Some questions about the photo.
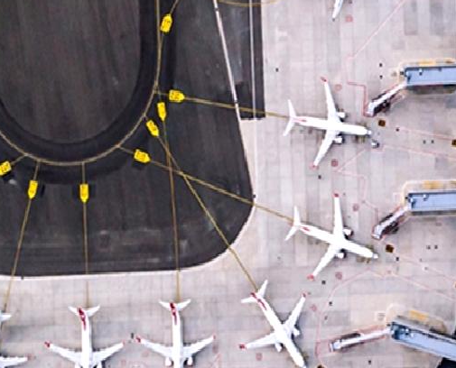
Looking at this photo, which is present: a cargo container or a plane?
plane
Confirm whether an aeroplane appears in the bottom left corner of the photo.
Yes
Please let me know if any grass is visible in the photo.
No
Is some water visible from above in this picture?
No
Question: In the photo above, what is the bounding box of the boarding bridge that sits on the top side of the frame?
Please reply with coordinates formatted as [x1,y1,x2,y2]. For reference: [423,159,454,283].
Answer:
[366,79,405,116]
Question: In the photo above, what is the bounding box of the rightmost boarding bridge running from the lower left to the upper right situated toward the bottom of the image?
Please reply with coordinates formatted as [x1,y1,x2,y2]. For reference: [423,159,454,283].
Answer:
[371,203,409,239]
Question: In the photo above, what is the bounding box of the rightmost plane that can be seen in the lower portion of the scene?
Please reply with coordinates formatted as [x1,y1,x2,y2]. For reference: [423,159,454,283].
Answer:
[288,195,378,275]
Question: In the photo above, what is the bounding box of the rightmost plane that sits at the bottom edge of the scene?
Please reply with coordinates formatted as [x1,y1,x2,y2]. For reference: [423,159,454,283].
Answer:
[236,280,306,367]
